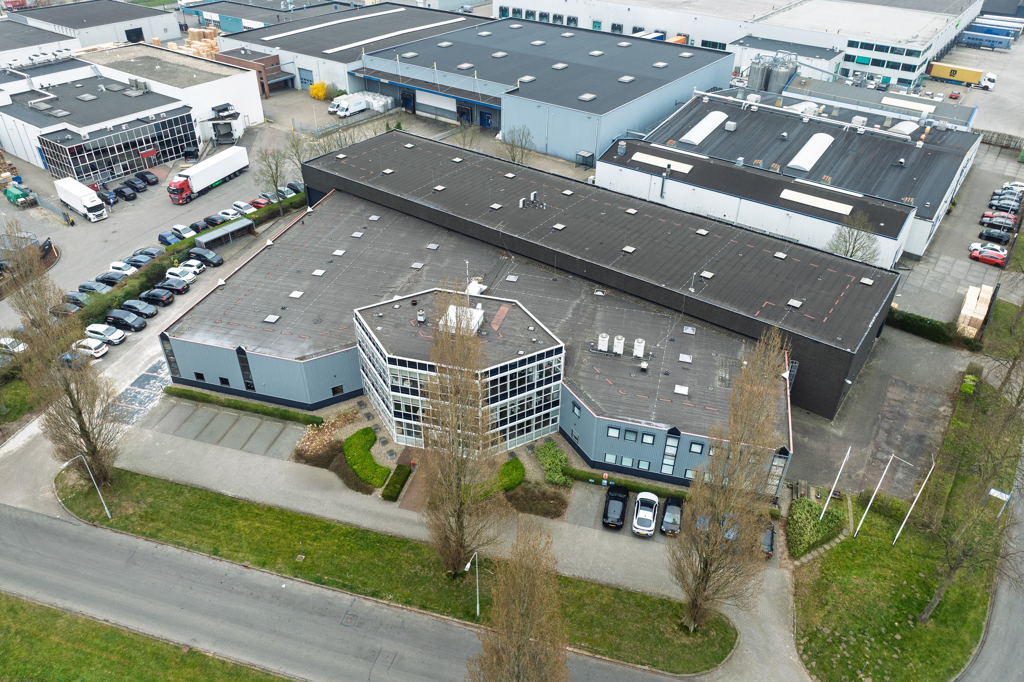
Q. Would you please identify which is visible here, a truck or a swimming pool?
truck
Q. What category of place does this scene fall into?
industrial area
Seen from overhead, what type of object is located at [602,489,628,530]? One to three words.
car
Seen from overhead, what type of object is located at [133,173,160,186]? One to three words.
vehicle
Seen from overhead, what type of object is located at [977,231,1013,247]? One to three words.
car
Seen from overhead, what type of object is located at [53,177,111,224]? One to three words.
truck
